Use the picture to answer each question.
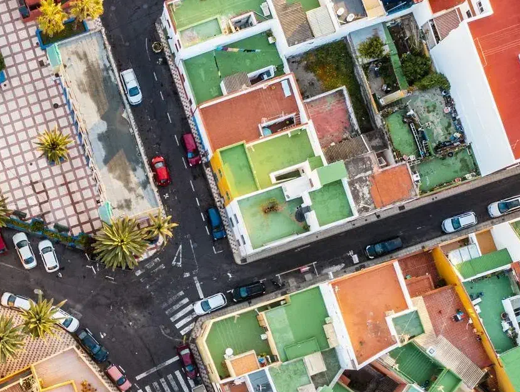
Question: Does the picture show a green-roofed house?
Yes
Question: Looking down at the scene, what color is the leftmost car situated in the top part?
white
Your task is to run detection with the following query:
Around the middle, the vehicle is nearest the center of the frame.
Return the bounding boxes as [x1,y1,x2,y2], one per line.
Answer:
[203,204,227,243]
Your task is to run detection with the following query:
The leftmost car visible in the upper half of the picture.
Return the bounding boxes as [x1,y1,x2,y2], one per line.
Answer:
[118,68,142,108]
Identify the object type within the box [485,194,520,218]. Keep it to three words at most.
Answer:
car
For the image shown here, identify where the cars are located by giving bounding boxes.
[438,212,477,234]
[77,328,107,363]
[485,194,520,218]
[150,154,170,190]
[227,280,267,302]
[48,305,82,333]
[36,239,61,275]
[179,132,203,170]
[176,343,199,380]
[203,204,227,243]
[13,233,37,269]
[101,357,134,392]
[362,235,403,259]
[190,291,230,316]
[118,68,142,108]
